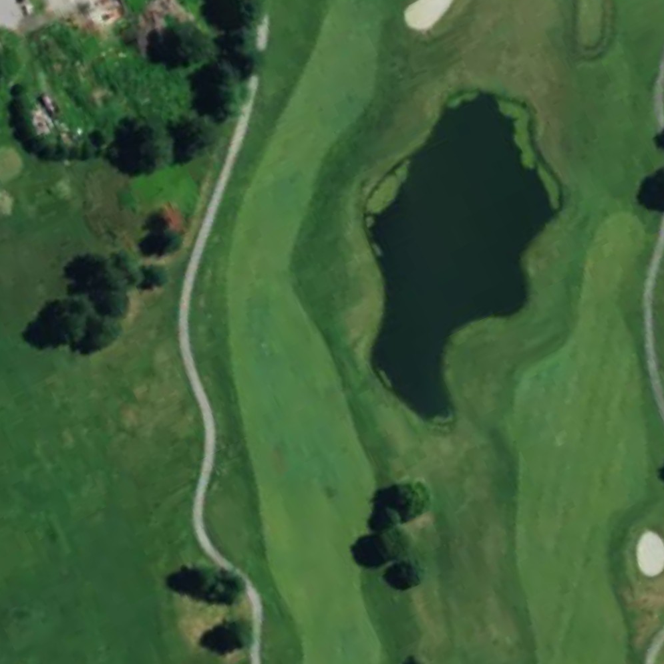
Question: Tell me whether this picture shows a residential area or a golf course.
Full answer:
It's a golf course.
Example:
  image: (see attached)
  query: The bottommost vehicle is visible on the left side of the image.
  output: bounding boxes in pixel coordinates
[42,95,54,110]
